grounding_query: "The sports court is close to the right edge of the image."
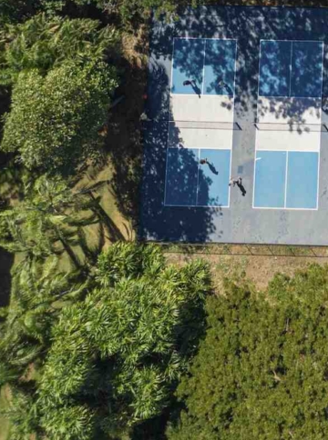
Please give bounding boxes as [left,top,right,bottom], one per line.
[253,40,324,210]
